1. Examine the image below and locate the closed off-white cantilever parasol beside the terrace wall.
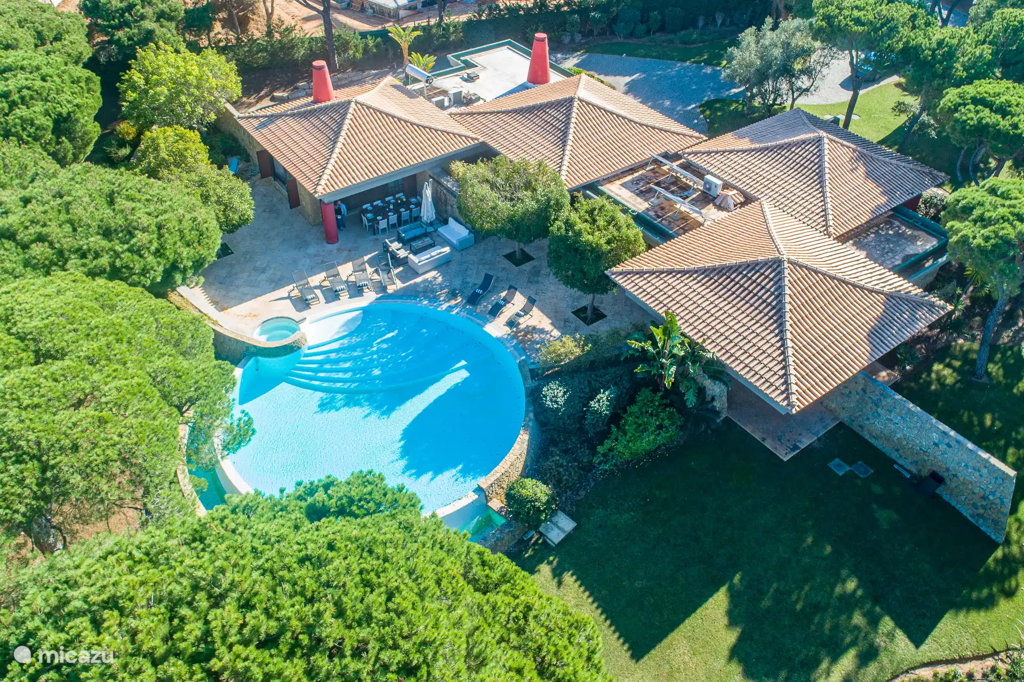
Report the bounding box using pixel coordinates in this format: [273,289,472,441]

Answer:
[422,179,442,225]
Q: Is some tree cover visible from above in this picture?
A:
Yes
